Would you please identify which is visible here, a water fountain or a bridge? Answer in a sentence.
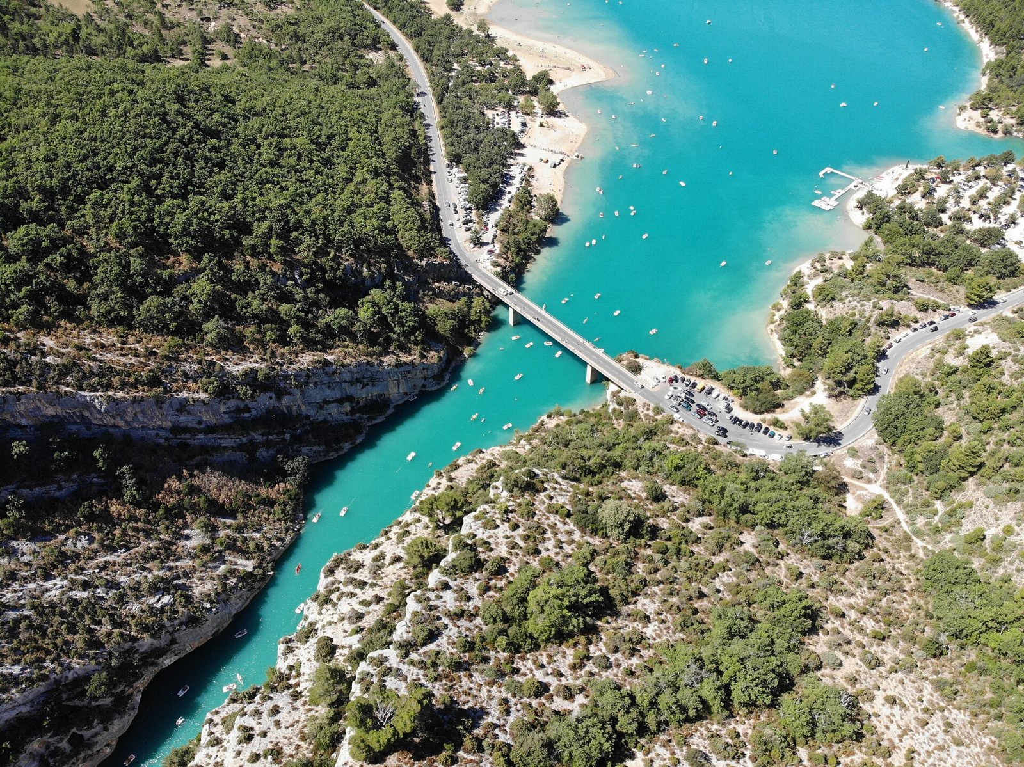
I can see a bridge in this picture.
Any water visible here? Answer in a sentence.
Yes, water shows up in the scene.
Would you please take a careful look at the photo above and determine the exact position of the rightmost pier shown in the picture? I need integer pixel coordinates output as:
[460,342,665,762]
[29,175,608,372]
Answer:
[816,167,867,209]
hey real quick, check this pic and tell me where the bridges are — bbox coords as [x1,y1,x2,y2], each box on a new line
[469,265,653,400]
